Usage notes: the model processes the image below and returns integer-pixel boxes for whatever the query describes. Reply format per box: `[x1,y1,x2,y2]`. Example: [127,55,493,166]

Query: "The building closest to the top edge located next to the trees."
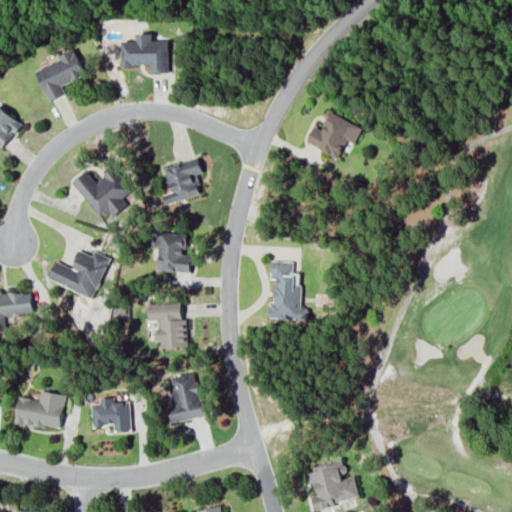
[121,33,168,72]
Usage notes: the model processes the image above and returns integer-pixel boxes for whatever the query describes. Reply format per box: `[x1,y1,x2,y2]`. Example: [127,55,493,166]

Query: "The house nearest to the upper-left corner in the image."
[36,49,84,102]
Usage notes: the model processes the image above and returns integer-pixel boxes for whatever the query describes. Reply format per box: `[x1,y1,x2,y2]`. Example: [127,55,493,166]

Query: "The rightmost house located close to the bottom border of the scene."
[309,462,359,512]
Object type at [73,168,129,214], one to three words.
house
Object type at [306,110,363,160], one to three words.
house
